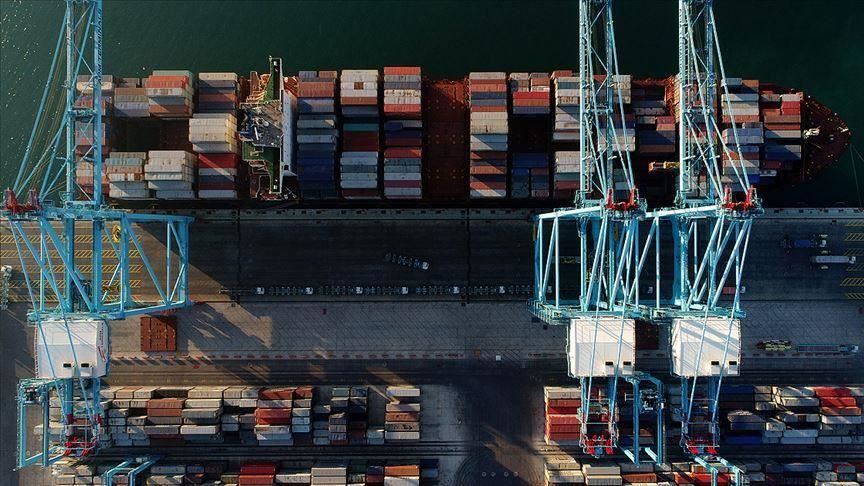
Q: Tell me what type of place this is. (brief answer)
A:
port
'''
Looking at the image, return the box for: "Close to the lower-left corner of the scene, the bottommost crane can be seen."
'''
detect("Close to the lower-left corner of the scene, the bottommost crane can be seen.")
[100,453,167,486]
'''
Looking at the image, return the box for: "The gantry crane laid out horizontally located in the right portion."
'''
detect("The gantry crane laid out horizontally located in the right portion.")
[690,453,757,486]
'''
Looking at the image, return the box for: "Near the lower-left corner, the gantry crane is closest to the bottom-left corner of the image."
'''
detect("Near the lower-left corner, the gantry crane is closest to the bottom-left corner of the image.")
[14,375,89,470]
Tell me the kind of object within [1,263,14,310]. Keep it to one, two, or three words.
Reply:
vehicle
